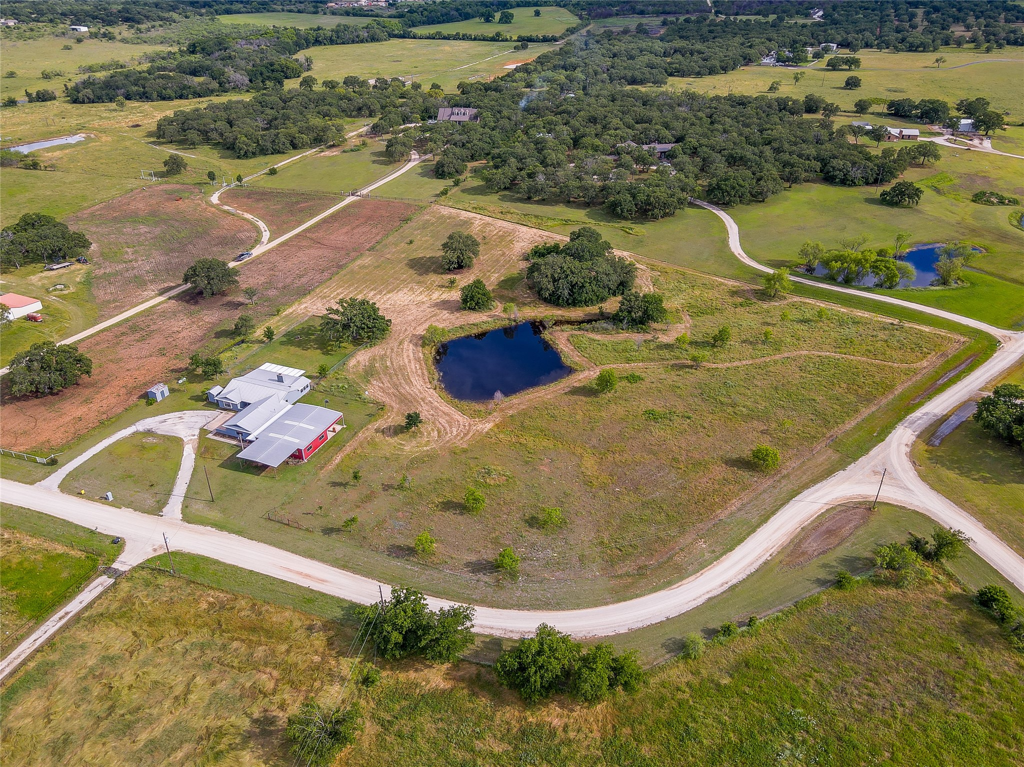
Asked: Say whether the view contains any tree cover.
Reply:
Yes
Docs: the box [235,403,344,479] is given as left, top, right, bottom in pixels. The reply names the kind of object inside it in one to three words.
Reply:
barn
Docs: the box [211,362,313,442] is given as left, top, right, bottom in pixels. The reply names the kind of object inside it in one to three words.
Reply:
house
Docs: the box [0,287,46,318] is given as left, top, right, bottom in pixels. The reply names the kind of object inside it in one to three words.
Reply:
barn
